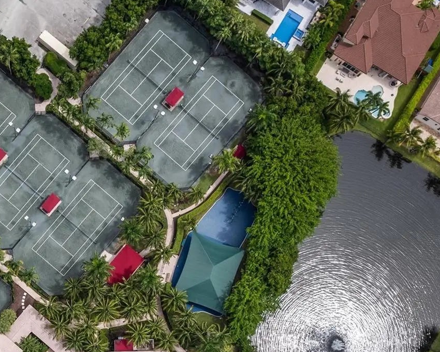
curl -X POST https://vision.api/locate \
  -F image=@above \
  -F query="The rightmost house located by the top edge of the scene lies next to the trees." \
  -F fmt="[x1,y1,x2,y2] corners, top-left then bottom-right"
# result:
[331,0,440,85]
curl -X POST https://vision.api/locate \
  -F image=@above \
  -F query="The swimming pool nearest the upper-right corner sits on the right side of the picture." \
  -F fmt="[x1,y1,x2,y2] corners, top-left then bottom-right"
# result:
[352,84,391,120]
